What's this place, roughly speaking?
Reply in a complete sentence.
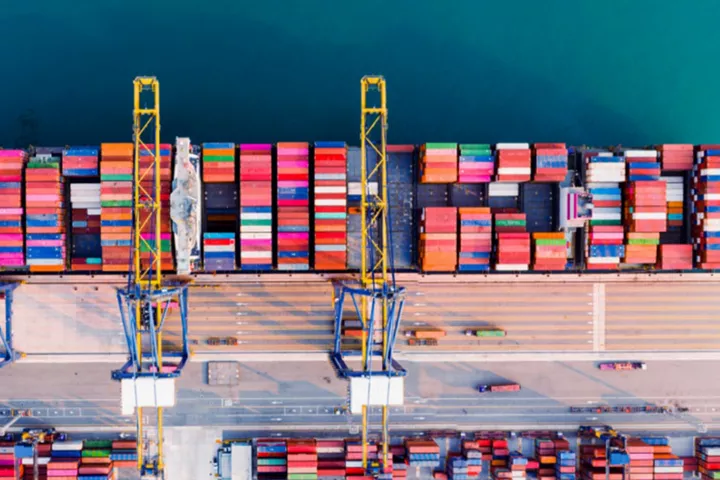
This image shows a port.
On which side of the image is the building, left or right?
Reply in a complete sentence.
The building is on the left side of the image.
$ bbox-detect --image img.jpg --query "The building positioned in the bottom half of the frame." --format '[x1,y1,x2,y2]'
[220,439,252,480]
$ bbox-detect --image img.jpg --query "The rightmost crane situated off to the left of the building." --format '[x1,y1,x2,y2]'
[112,74,195,478]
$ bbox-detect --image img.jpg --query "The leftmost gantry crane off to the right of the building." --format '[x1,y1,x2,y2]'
[332,74,409,478]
